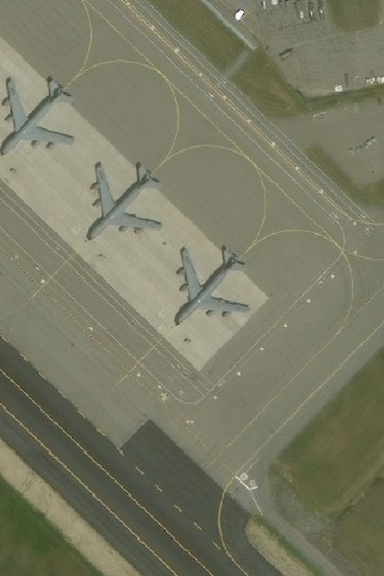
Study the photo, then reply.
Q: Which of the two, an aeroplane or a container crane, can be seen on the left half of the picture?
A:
aeroplane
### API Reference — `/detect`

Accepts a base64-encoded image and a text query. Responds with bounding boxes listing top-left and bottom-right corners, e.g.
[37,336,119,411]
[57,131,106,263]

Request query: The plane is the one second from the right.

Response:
[88,164,163,239]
